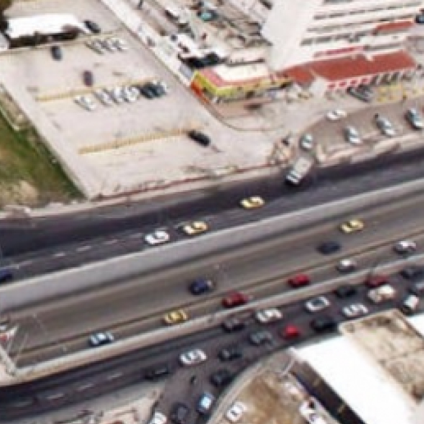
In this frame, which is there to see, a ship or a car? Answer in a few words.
car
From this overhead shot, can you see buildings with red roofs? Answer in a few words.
Yes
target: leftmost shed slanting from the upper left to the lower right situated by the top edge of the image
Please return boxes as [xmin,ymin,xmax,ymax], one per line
[138,0,169,35]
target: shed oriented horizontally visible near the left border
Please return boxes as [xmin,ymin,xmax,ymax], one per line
[5,14,91,52]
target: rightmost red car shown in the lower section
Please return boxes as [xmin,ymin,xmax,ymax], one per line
[364,275,391,290]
